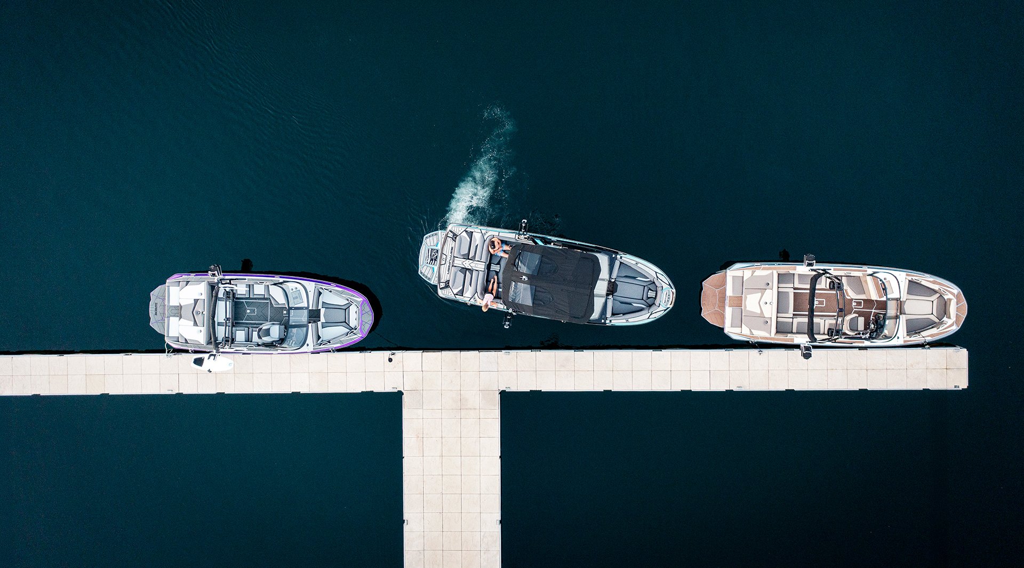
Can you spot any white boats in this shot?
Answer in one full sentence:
Yes, I can see a white boat in this picture.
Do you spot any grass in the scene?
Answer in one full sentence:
No, the scene doesn't show any grass.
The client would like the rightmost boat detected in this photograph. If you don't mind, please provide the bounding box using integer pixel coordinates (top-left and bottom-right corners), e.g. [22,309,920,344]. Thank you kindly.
[700,252,967,360]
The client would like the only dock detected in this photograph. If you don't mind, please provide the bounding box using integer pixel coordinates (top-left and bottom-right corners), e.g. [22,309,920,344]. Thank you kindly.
[0,347,968,568]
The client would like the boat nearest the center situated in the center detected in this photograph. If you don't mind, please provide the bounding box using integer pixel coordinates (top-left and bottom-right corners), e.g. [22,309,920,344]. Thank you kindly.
[419,219,676,329]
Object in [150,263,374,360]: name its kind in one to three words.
boat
